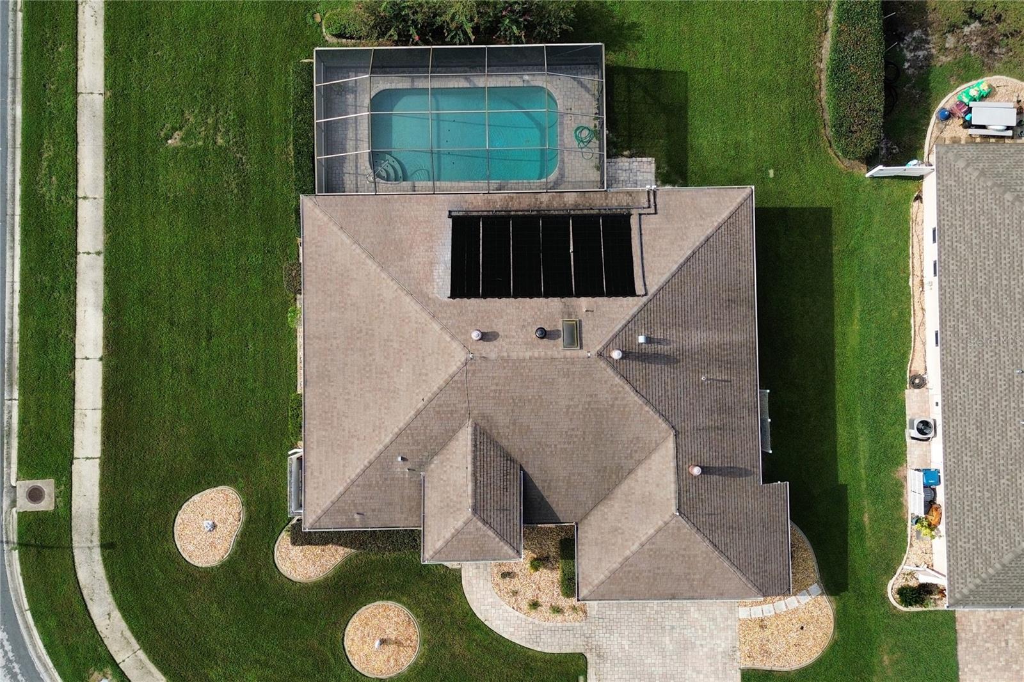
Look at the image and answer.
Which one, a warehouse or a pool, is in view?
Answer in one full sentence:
Looking from above, you can make out a pool.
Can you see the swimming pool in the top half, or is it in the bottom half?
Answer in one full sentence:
It is in the top half that the swimming pool appears.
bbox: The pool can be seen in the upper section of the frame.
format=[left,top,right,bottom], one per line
[364,80,565,188]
